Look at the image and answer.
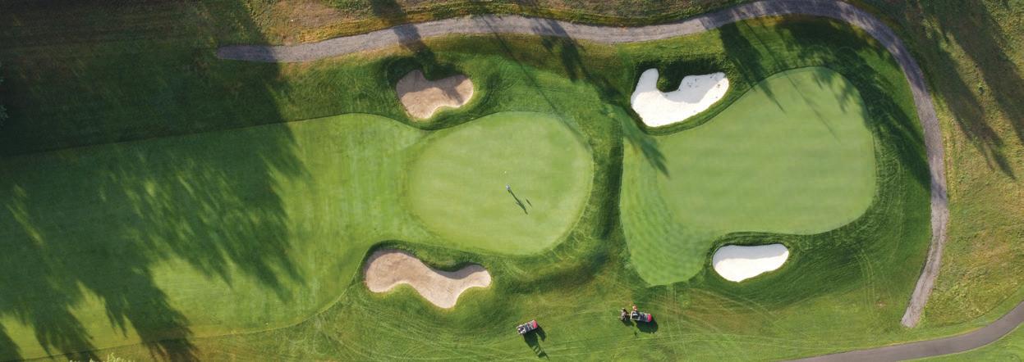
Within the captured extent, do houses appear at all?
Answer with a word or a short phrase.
No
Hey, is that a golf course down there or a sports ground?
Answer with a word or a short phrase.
golf course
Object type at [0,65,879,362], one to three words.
golf course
